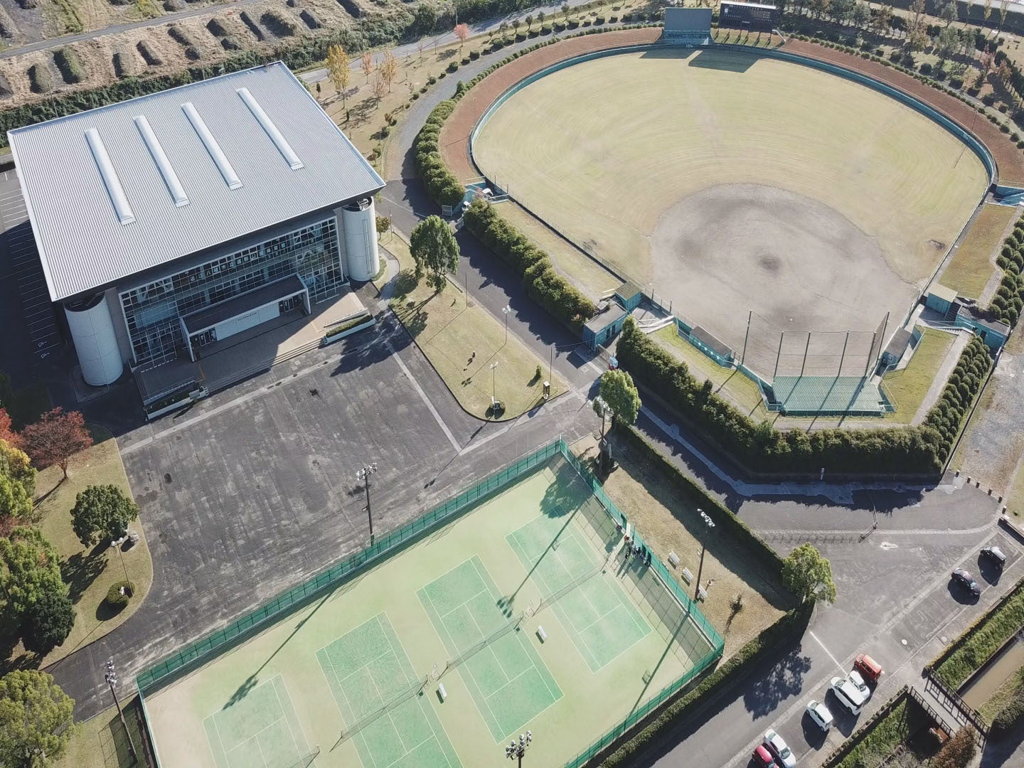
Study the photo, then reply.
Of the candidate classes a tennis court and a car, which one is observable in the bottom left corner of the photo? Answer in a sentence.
Visible in the bottom left corner of the photo is a tennis court.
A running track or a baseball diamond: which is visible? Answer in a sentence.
This aerial view contains a baseball diamond.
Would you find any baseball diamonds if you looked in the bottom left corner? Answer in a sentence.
No, in the bottom left corner there is no baseball diamond.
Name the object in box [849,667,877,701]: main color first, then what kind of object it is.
white car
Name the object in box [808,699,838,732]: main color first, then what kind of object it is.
white car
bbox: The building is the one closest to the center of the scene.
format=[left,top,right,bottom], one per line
[584,291,633,349]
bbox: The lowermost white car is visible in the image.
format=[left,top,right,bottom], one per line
[766,726,799,768]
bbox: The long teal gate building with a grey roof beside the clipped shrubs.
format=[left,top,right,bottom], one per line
[959,302,1017,351]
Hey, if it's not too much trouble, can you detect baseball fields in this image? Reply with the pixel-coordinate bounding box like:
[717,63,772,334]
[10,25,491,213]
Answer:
[473,47,988,382]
